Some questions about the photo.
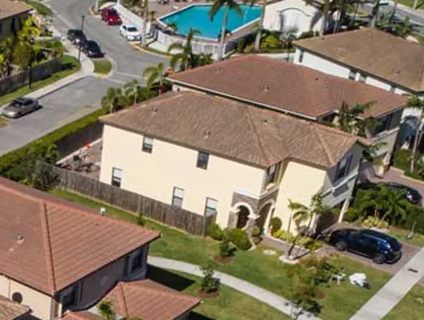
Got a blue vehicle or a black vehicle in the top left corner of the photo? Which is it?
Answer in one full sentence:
Looking in the top left corner of the photo, you will find a black vehicle.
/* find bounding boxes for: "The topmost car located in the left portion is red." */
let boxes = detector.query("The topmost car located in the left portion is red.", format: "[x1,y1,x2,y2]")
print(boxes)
[101,8,120,22]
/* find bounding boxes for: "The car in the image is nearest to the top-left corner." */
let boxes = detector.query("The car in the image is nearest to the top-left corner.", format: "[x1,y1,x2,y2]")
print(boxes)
[65,23,86,43]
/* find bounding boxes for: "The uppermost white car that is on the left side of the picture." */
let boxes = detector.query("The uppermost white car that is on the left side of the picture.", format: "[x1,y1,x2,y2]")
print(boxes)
[118,22,139,38]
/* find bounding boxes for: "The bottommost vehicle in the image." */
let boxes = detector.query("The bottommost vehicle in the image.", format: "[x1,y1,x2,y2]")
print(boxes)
[330,227,407,262]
